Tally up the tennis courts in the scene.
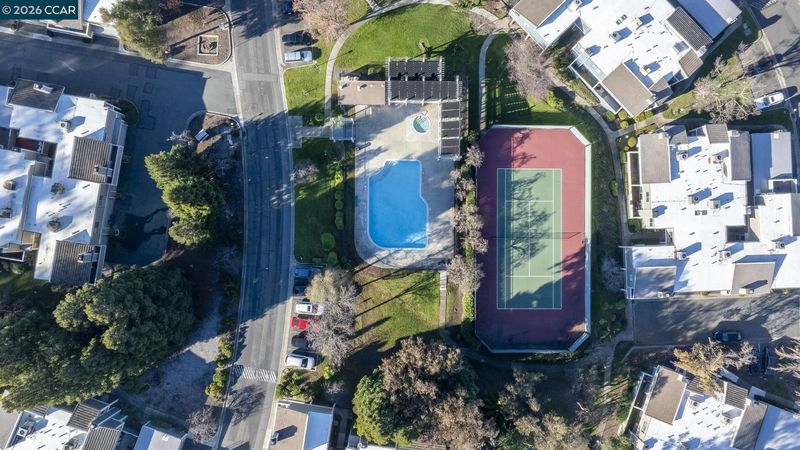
1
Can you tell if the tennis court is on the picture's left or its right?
right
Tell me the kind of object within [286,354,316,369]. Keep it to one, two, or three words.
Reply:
car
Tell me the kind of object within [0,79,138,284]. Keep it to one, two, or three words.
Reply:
building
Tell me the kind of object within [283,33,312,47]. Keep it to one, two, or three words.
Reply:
car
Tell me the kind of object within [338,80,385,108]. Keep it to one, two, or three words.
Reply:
building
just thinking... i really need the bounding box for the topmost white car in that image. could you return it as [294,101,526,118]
[283,49,313,63]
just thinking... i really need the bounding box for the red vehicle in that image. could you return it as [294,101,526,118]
[292,316,320,329]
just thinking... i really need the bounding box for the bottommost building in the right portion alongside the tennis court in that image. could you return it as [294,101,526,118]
[612,357,800,450]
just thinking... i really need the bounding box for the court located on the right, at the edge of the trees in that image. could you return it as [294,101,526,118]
[476,123,592,357]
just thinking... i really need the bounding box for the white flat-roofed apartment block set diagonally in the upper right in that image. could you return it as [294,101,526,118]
[493,0,741,130]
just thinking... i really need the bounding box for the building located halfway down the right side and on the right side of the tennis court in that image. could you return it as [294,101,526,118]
[604,123,800,299]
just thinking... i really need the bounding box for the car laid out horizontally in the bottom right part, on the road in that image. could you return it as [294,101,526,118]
[712,330,742,344]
